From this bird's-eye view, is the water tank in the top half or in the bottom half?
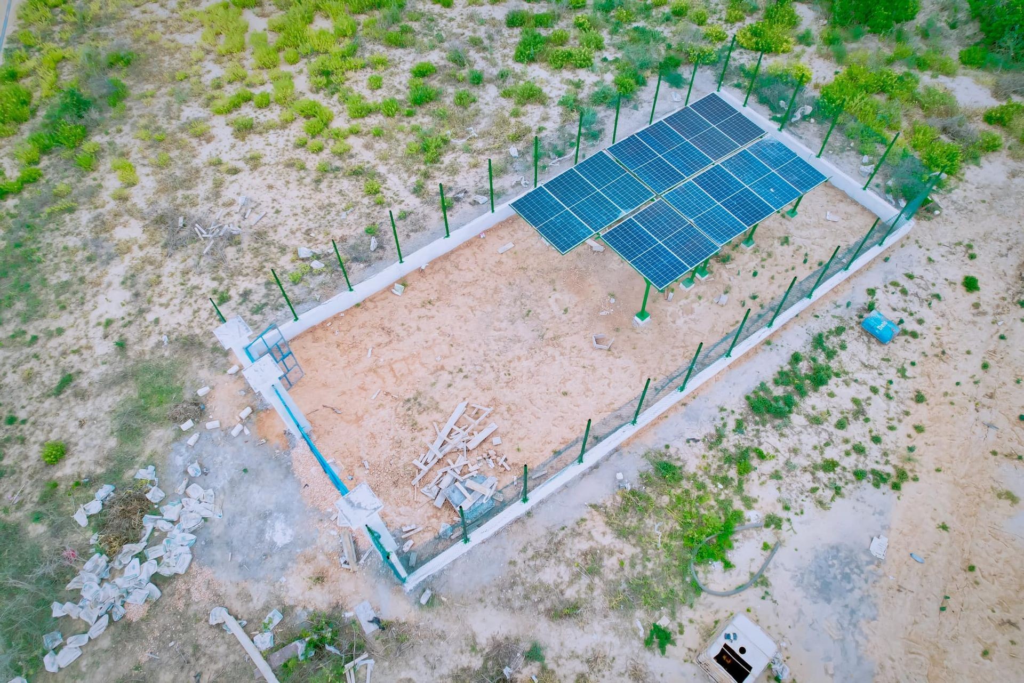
bottom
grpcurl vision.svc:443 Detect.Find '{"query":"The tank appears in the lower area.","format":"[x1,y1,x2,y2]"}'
[688,612,778,683]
